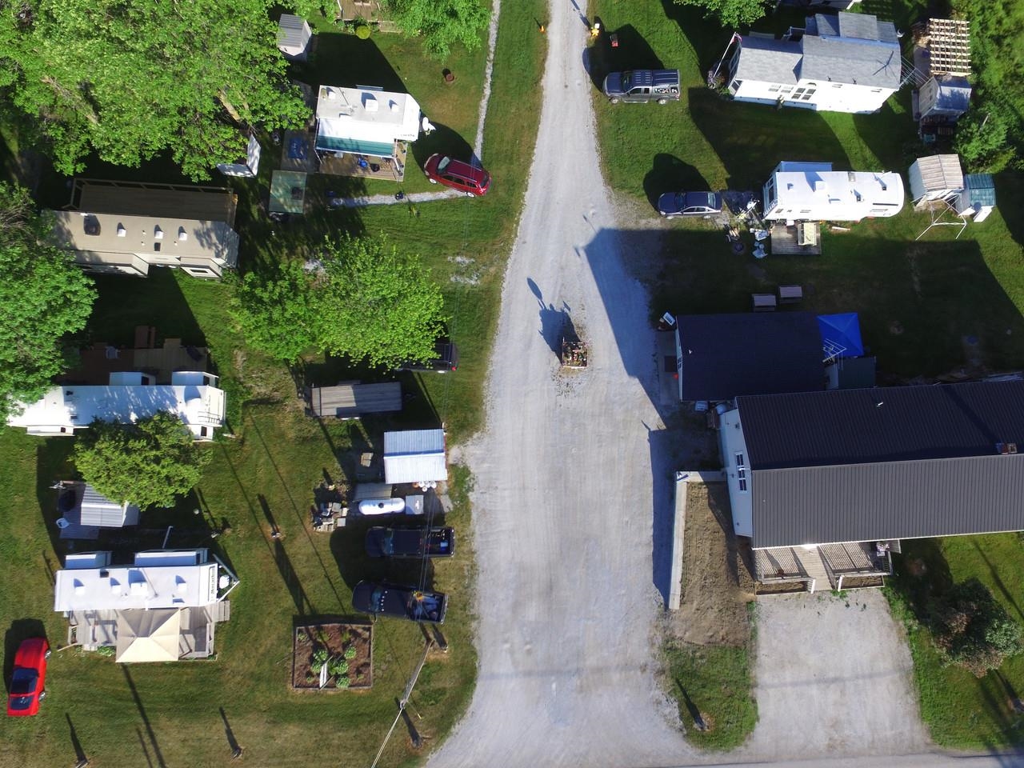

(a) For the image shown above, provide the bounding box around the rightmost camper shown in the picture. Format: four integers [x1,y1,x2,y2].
[762,161,903,227]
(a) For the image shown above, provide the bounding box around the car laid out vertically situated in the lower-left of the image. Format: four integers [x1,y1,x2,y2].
[4,634,57,722]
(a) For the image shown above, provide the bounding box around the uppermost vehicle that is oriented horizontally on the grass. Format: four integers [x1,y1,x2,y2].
[602,69,683,106]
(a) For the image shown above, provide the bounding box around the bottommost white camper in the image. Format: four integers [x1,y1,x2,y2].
[54,545,239,611]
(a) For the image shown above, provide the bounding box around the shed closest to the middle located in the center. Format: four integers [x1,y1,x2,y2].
[382,429,448,484]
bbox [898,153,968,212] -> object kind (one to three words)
shed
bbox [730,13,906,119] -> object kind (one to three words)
house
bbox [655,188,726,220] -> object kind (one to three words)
car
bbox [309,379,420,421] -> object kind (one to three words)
trailer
